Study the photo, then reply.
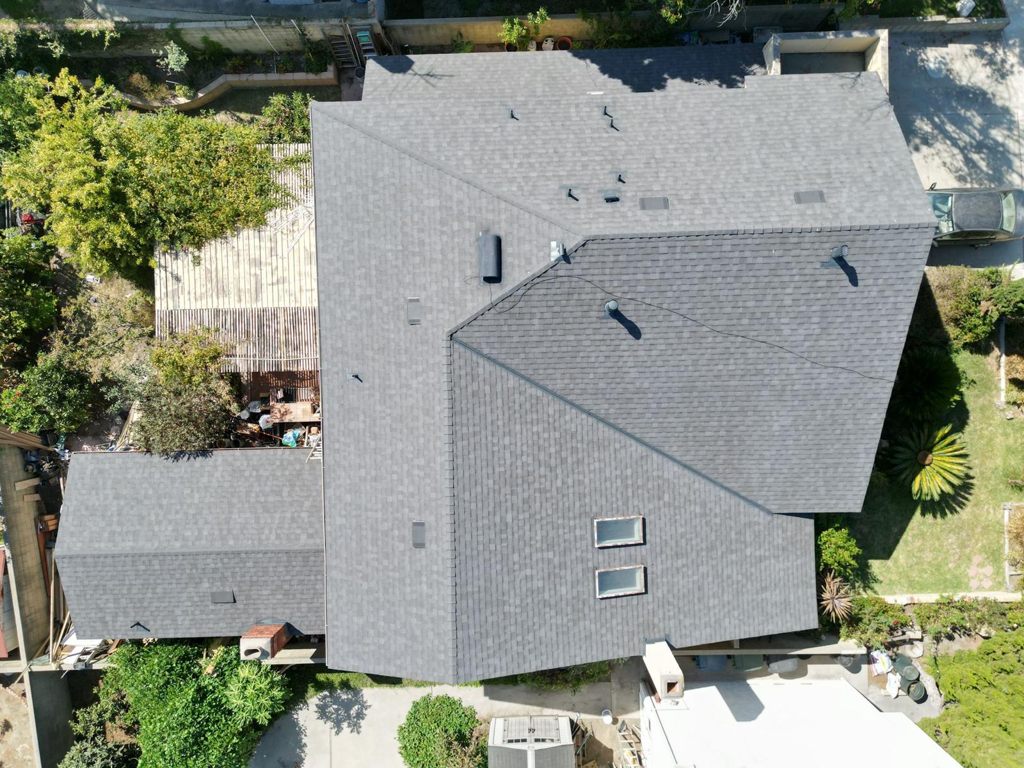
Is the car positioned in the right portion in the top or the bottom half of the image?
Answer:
top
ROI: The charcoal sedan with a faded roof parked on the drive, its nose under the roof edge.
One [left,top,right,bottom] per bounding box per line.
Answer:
[922,178,1024,255]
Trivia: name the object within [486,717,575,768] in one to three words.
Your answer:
shed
